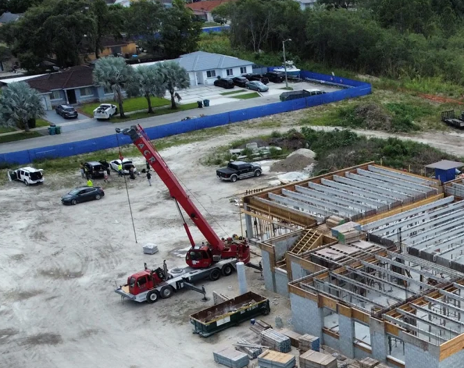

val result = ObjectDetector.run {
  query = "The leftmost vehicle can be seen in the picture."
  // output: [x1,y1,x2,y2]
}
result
[7,161,46,183]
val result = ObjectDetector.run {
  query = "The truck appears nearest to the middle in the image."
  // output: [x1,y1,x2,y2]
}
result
[210,160,265,181]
